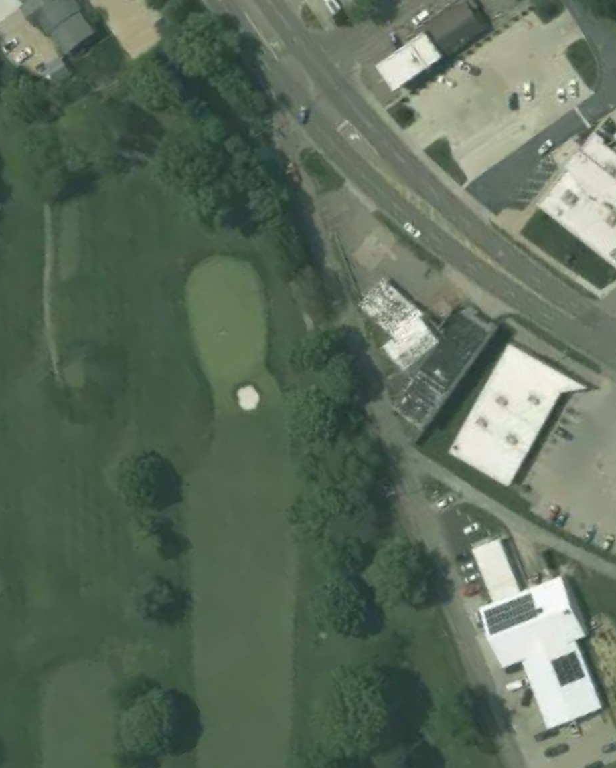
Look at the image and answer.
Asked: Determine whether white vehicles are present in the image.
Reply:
Yes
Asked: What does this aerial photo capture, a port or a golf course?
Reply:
golf course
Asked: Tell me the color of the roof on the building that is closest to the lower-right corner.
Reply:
white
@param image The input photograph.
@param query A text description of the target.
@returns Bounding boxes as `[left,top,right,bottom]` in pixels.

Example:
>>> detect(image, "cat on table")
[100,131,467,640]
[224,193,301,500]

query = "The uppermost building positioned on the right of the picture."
[427,0,492,57]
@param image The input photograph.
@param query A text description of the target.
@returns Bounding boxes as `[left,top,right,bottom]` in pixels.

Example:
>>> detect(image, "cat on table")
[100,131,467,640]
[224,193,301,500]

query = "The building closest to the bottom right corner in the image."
[473,538,520,600]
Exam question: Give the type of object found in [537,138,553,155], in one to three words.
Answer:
car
